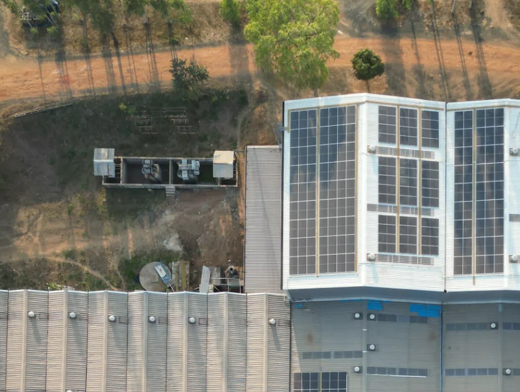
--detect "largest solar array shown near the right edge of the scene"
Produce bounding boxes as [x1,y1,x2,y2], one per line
[454,107,503,275]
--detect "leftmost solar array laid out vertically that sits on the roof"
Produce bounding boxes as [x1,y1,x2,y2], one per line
[290,104,355,275]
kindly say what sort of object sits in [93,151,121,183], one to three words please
shed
